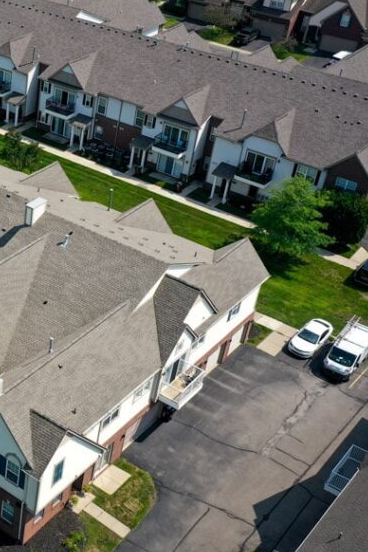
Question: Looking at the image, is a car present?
Yes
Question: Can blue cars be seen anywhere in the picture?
No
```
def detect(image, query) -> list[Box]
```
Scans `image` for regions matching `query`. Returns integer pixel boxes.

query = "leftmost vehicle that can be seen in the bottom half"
[290,316,331,352]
